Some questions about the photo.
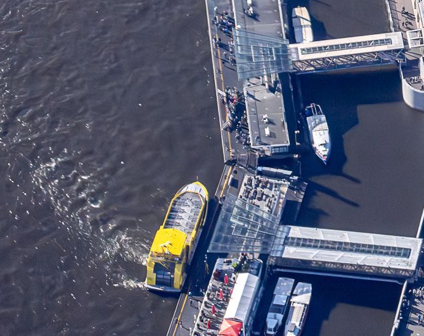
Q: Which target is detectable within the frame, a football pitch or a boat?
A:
boat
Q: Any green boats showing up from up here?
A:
No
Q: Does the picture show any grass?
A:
No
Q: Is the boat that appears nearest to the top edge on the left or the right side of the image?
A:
right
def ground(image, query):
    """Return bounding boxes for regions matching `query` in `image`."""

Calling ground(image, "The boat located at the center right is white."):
[306,107,333,166]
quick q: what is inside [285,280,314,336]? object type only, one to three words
boat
